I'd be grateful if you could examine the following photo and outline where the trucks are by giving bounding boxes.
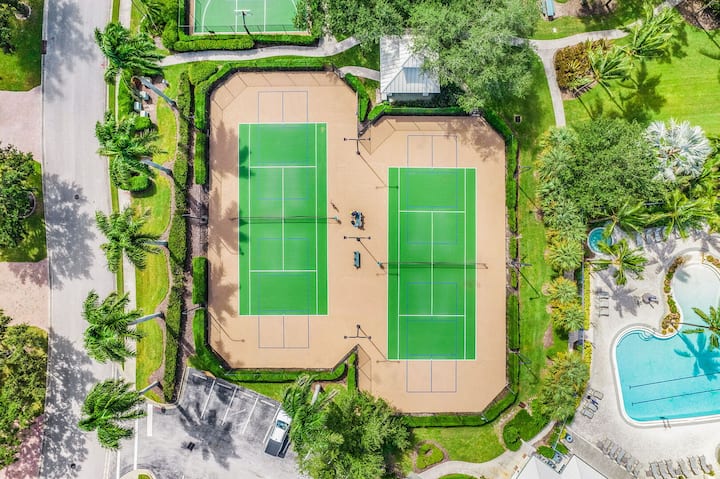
[265,407,298,457]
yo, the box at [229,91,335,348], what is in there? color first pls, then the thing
green tennis court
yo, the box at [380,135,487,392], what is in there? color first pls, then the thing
green tennis court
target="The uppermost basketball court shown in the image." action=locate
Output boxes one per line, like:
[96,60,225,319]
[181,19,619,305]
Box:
[188,0,315,36]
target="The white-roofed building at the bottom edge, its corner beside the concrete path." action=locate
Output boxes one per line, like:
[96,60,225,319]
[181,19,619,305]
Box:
[505,449,560,479]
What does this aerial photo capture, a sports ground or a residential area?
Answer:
sports ground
